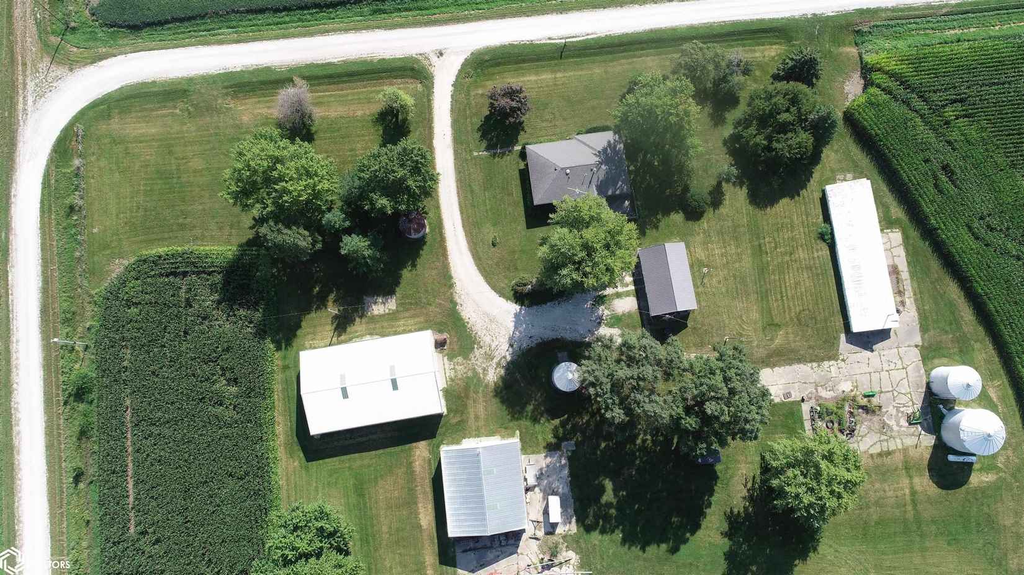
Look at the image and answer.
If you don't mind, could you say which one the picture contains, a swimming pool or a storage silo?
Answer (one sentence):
It is a storage silo that can be seen here.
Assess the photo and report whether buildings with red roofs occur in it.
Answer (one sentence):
No, I can see no building with a red roof in this picture.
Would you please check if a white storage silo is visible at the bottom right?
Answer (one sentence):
Yes, the scene does show a white storage silo at the bottom right.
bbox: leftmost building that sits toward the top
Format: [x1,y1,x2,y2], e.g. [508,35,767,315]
[525,130,634,206]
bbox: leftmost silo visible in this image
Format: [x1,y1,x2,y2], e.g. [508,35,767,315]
[399,211,429,241]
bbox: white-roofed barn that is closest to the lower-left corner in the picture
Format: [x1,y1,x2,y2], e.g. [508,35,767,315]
[299,330,443,436]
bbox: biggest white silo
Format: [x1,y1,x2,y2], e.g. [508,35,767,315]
[940,407,1006,456]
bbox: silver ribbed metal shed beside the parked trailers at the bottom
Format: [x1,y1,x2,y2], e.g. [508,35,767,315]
[441,441,527,537]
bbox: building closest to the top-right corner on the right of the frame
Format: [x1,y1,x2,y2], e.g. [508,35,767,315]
[820,179,902,333]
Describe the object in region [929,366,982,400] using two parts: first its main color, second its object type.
white silo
